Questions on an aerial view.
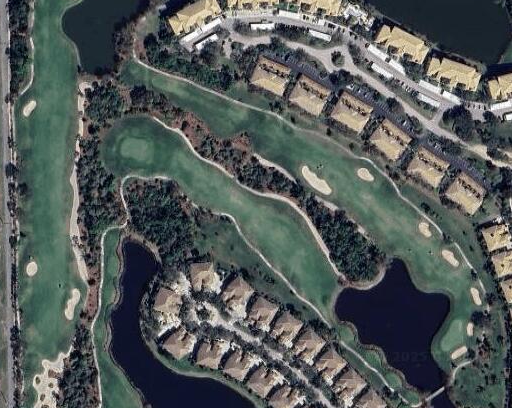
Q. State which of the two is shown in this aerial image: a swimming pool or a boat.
swimming pool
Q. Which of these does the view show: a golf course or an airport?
golf course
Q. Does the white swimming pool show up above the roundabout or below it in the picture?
above it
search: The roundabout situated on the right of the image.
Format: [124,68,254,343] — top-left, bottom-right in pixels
[267,34,365,81]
